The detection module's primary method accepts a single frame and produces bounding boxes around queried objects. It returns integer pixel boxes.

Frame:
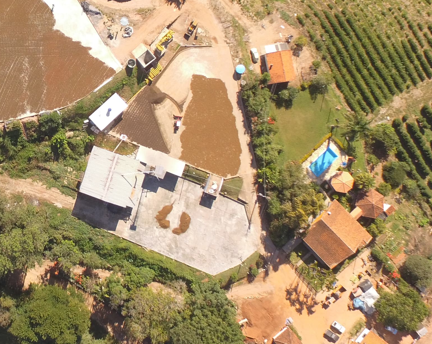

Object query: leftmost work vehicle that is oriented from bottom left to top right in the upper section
[184,21,199,38]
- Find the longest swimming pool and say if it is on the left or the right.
right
